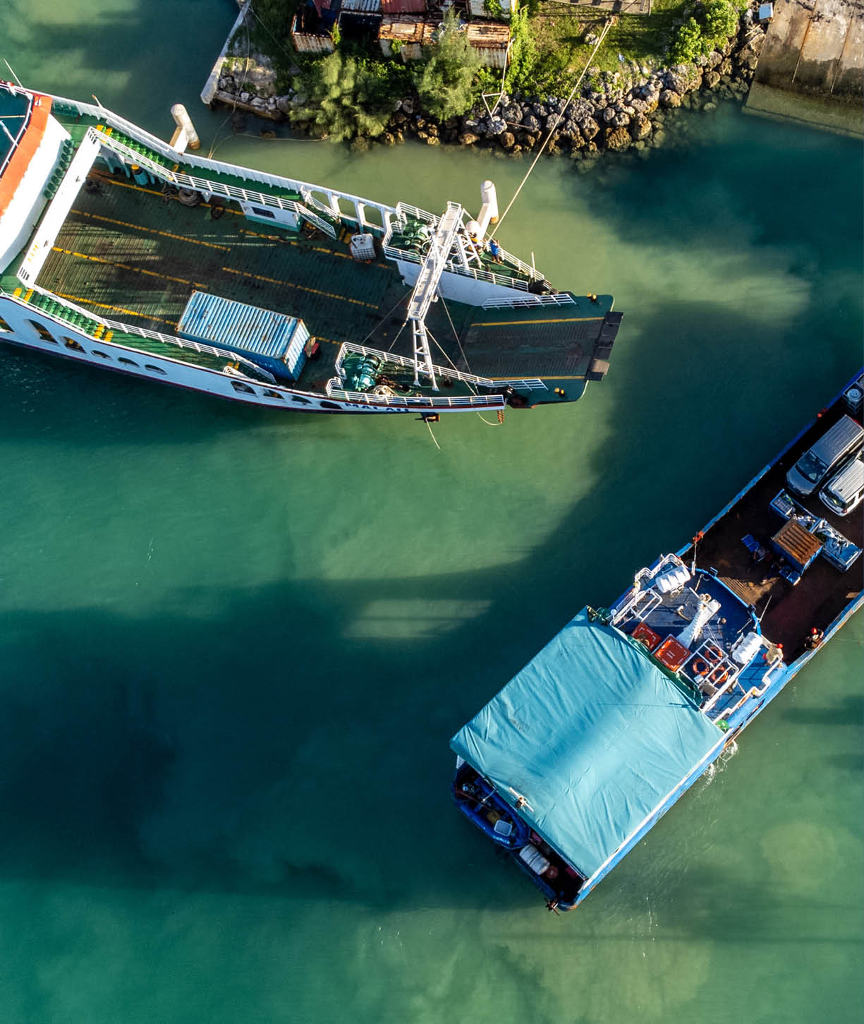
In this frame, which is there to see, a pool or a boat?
boat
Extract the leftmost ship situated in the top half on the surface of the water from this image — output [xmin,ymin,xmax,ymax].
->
[0,40,622,449]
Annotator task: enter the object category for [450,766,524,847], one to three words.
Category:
boat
